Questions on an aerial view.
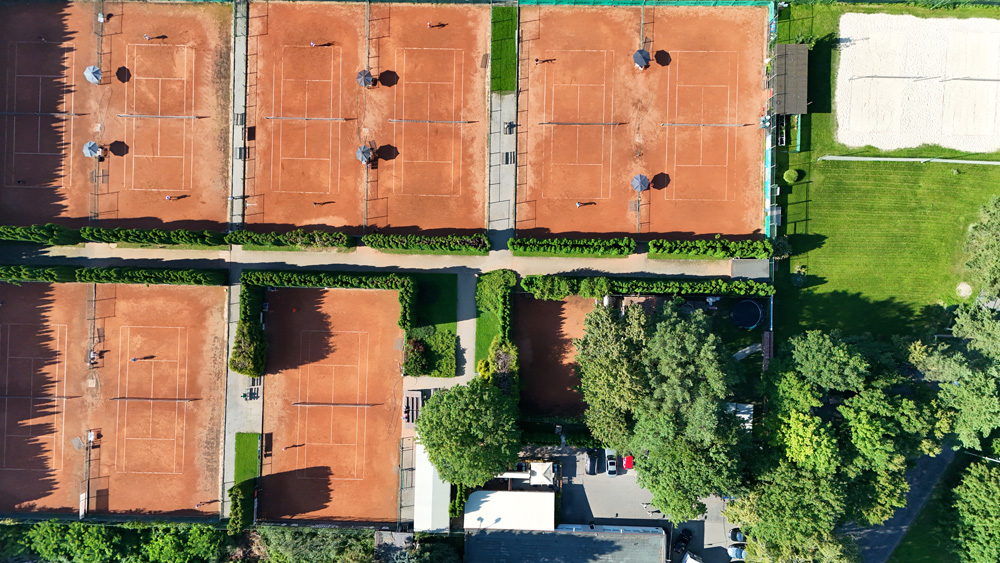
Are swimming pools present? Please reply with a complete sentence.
No, I find no swimming pool anywhere in the image.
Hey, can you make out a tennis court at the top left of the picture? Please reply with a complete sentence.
Yes, a tennis court is visible at the top left of the picture.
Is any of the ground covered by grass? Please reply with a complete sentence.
Yes, some grass is visible.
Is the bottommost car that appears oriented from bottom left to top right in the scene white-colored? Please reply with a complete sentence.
No, the bottommost car that appears oriented from bottom left to top right is actually black.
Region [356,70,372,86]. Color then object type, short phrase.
gray umbrella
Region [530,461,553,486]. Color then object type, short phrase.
white gazebo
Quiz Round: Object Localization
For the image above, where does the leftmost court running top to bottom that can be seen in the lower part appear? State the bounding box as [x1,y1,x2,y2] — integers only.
[0,281,94,512]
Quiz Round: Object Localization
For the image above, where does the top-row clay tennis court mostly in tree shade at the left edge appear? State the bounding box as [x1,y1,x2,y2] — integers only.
[0,3,101,228]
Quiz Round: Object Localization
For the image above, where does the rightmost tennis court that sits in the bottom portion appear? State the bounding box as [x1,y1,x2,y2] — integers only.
[512,292,602,418]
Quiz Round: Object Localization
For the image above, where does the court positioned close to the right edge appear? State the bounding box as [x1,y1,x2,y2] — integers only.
[836,13,1000,153]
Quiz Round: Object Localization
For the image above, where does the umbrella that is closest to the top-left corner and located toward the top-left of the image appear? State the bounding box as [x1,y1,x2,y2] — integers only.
[84,65,102,83]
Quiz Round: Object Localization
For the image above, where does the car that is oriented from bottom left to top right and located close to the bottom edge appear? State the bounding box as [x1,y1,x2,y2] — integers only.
[672,527,695,555]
